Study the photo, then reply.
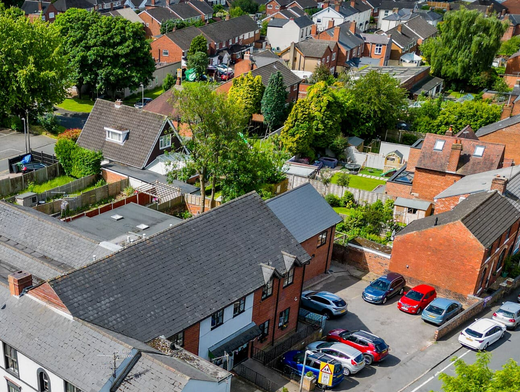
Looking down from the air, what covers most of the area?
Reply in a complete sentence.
The largest share of the image is taken up by buildings.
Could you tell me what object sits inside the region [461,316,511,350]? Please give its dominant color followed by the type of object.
white car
